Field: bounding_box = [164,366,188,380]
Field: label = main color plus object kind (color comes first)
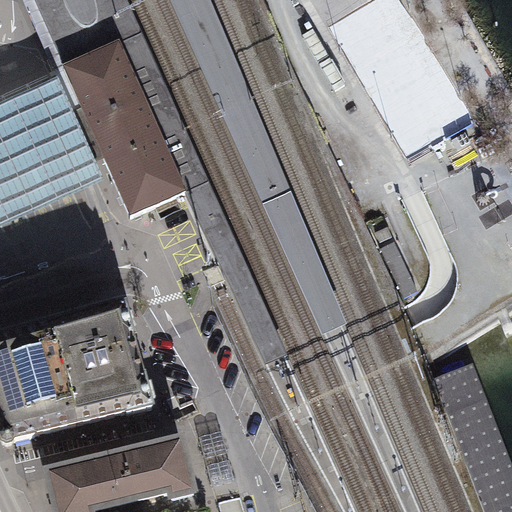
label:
black vehicle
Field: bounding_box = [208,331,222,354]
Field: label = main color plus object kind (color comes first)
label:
black car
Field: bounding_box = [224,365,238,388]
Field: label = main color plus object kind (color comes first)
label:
black vehicle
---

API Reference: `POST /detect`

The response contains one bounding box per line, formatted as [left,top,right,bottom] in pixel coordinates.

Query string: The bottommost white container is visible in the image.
[319,58,345,94]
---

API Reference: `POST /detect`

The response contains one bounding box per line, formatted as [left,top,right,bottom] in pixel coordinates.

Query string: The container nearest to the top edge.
[302,29,328,64]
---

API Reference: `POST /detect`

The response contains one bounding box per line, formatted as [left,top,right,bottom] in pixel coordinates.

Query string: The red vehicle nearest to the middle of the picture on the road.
[218,348,231,370]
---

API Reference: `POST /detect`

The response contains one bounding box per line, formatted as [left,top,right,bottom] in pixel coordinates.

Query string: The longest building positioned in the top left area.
[60,40,188,220]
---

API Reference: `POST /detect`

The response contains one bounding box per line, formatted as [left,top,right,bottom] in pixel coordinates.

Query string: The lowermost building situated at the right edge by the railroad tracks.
[434,364,512,512]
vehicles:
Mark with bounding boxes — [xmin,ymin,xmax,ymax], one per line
[224,365,238,388]
[152,339,173,350]
[202,313,216,336]
[248,414,261,436]
[164,366,188,380]
[165,210,190,226]
[155,352,178,363]
[291,0,302,8]
[218,348,231,370]
[171,384,194,396]
[208,331,222,354]
[246,500,256,512]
